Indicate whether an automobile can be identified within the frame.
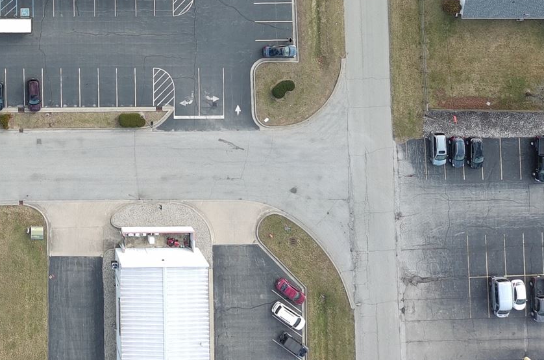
Yes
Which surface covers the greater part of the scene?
paved ground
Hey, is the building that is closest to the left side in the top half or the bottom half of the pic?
bottom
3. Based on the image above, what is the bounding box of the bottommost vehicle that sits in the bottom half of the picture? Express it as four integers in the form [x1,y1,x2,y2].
[276,329,308,358]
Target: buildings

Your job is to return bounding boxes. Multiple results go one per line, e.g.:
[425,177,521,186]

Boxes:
[115,250,211,360]
[454,0,544,19]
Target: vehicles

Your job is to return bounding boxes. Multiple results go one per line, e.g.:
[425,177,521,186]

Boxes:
[273,277,306,304]
[511,278,528,310]
[490,275,514,317]
[26,78,42,112]
[447,136,466,167]
[465,136,485,169]
[531,136,544,181]
[276,329,308,358]
[270,301,306,329]
[0,18,31,38]
[0,81,6,111]
[530,274,544,320]
[262,45,295,61]
[429,133,449,165]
